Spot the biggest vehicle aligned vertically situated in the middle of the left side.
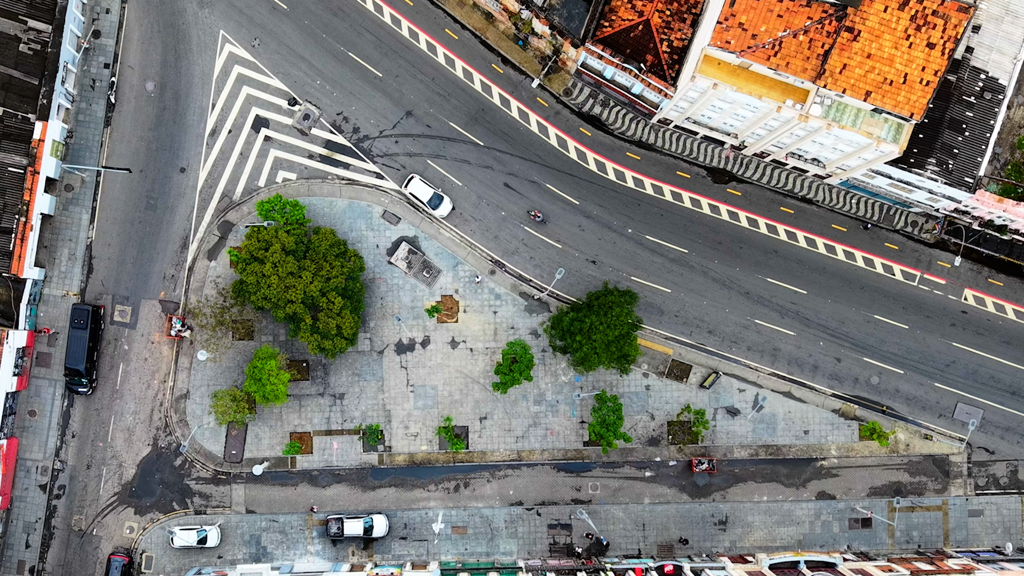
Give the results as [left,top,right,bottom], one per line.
[60,303,105,395]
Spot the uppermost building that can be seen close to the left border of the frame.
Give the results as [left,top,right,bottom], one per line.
[0,0,86,128]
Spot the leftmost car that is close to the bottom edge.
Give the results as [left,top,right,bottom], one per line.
[100,550,128,576]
